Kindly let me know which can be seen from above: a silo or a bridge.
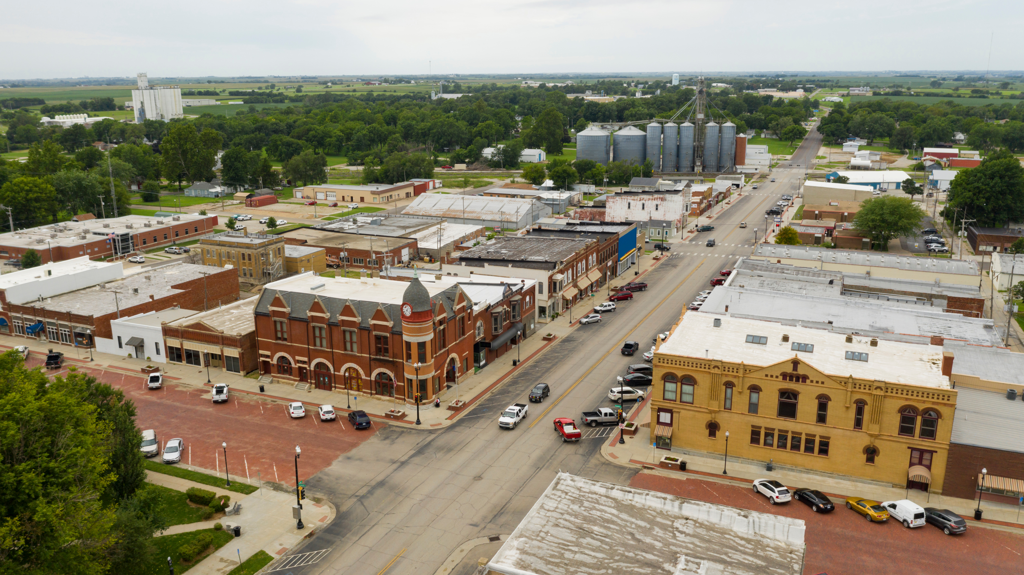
silo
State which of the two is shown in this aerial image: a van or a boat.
van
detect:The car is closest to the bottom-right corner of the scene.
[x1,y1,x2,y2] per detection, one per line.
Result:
[923,508,971,538]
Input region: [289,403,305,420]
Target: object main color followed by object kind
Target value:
white car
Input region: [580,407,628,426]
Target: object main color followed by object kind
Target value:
gray vehicle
